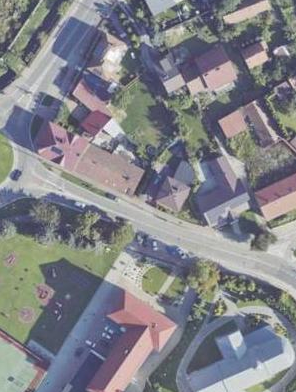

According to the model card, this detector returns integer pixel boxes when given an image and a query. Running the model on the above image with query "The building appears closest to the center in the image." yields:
[153,176,190,214]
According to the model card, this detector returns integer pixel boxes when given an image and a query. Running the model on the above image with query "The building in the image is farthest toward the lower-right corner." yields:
[187,328,291,392]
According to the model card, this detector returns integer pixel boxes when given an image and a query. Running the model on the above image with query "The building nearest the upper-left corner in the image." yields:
[79,33,113,74]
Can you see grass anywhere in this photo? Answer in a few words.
Yes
